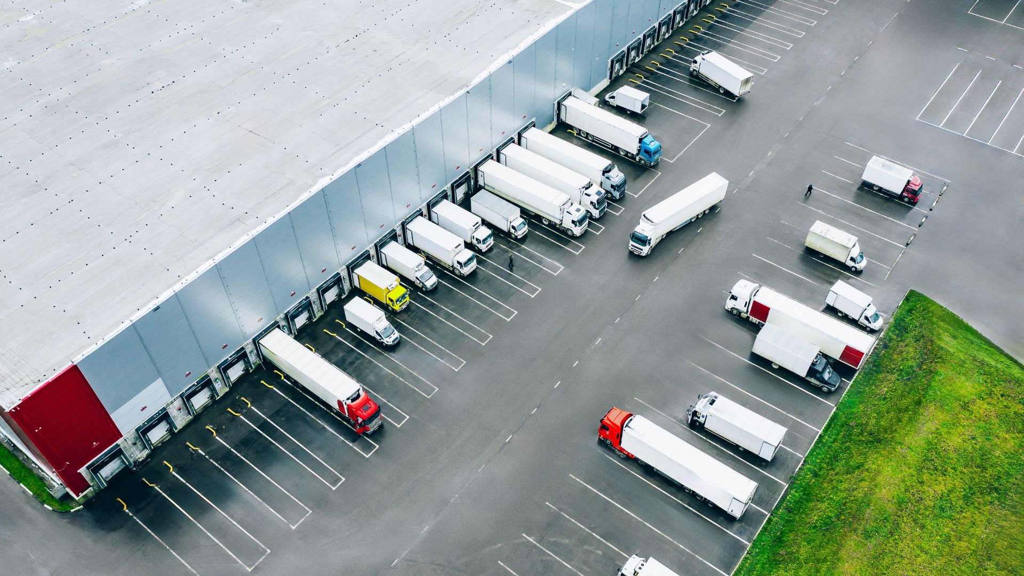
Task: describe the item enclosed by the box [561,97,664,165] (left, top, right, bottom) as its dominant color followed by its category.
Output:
white truck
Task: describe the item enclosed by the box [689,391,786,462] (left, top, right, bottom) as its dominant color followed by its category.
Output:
white truck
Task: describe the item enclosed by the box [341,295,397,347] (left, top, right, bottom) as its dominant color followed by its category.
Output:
white van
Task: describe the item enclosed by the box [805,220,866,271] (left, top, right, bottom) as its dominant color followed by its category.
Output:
white van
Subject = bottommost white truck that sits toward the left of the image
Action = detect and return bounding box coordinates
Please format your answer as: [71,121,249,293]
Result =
[259,329,384,437]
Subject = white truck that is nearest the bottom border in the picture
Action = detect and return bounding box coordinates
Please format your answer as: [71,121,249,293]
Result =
[611,547,679,576]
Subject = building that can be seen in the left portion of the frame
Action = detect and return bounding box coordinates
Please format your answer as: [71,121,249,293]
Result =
[0,0,718,510]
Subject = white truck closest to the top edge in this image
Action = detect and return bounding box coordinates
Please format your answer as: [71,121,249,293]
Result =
[686,54,748,99]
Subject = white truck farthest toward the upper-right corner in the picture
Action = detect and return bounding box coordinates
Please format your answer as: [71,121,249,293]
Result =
[861,156,927,204]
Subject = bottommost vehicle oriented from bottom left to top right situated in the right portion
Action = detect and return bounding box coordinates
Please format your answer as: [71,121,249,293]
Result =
[627,167,723,255]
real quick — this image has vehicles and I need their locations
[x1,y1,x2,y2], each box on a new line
[599,407,758,521]
[686,54,748,99]
[753,322,842,394]
[523,126,629,199]
[689,391,786,462]
[605,85,649,117]
[341,295,397,347]
[470,188,529,238]
[824,280,883,330]
[382,242,435,290]
[861,156,927,204]
[355,261,410,312]
[433,198,494,251]
[482,157,592,235]
[805,220,866,271]
[561,97,664,165]
[725,282,875,374]
[611,547,679,576]
[259,329,384,437]
[627,167,723,255]
[409,216,478,276]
